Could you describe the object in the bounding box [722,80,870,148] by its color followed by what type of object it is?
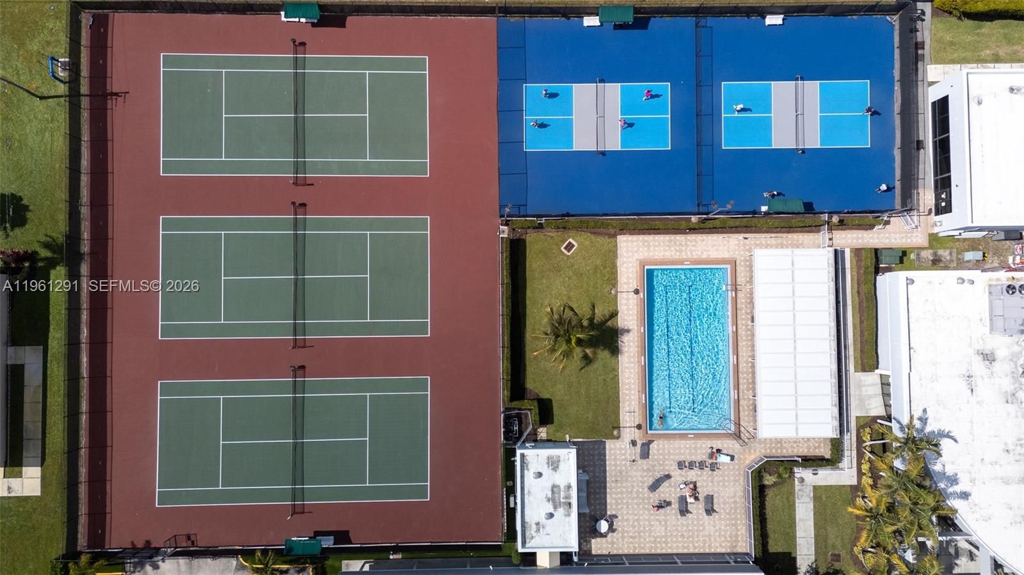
blue sports court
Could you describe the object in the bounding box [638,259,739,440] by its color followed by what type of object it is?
blue swimming pool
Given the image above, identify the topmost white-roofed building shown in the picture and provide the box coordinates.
[930,70,1024,231]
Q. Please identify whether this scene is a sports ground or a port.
sports ground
